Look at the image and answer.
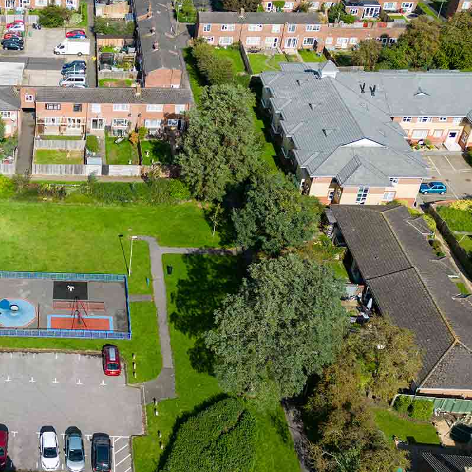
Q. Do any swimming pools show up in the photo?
No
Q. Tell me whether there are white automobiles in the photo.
Yes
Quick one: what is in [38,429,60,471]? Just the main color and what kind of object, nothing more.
white car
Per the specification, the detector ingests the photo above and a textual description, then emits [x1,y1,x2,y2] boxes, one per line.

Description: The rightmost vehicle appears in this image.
[421,180,451,196]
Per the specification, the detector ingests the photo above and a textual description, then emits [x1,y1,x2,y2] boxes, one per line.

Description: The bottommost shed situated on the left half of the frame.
[86,157,104,179]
